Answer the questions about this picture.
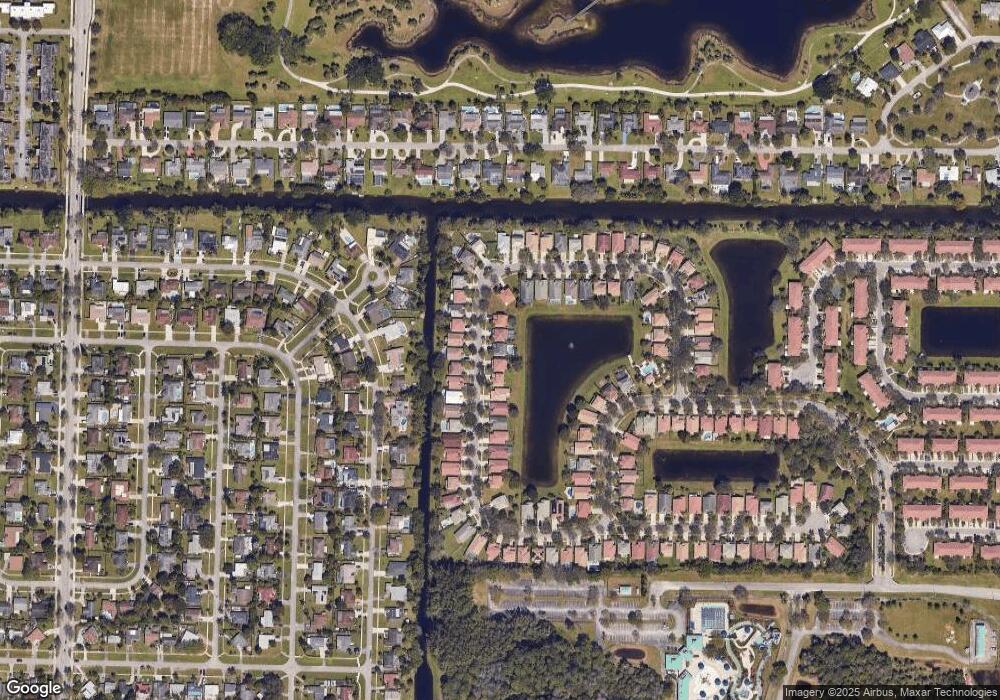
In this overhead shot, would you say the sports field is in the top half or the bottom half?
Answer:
top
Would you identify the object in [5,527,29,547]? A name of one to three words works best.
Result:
house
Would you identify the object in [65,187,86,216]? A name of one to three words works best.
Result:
bridge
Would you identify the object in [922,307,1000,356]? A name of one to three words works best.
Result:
pond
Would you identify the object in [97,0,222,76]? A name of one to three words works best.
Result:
sports field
